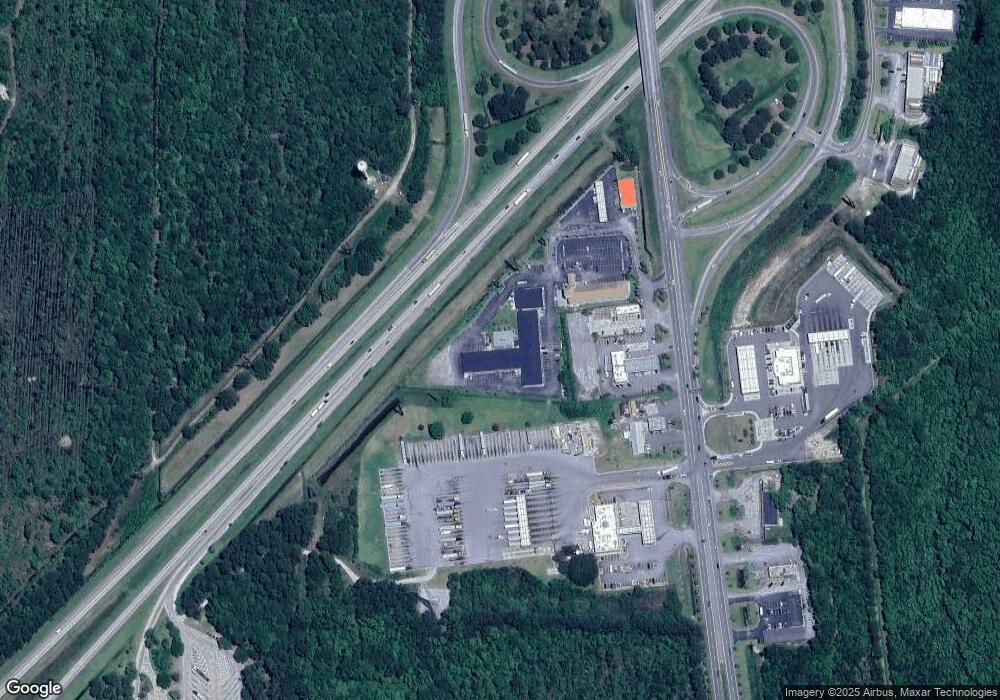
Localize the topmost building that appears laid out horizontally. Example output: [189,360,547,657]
[901,7,953,32]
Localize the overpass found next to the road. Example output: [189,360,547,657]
[636,0,662,102]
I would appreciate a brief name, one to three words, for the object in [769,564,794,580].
building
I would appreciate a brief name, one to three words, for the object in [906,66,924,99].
building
